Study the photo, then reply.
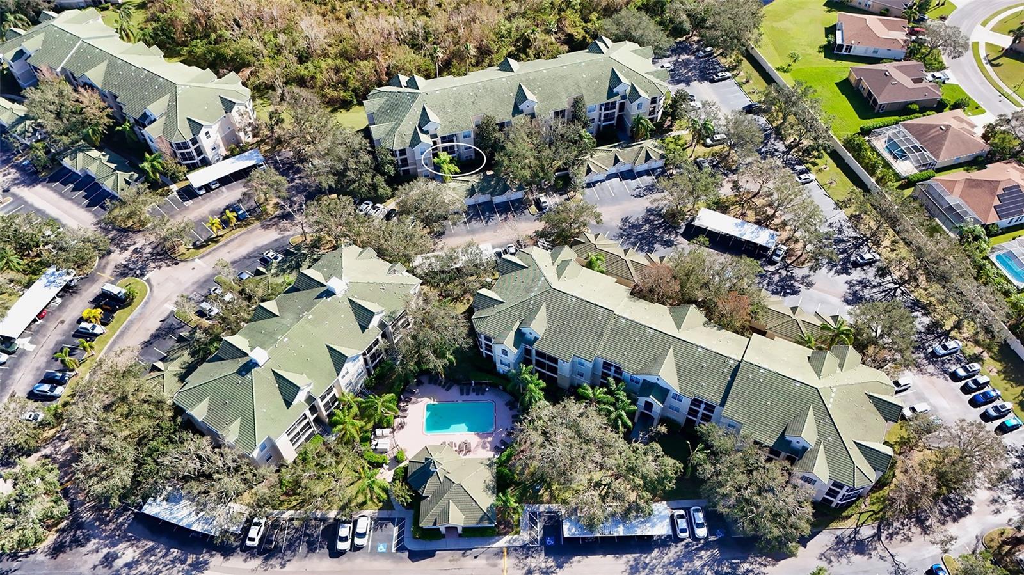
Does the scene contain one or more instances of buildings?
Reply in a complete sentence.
Yes, the photo shows a building.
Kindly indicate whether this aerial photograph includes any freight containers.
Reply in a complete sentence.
No, no freight container is visible in the scene.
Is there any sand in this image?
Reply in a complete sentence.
No, there is no sand in the image.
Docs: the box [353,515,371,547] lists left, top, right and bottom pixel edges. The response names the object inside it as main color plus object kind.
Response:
white car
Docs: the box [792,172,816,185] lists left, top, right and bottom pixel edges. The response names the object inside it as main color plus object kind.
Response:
white vehicle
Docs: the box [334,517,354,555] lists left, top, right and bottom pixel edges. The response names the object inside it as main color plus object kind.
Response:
white vehicle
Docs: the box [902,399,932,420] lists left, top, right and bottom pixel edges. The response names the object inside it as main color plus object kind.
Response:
white car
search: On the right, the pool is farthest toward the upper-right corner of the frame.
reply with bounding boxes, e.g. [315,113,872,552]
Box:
[889,143,912,161]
